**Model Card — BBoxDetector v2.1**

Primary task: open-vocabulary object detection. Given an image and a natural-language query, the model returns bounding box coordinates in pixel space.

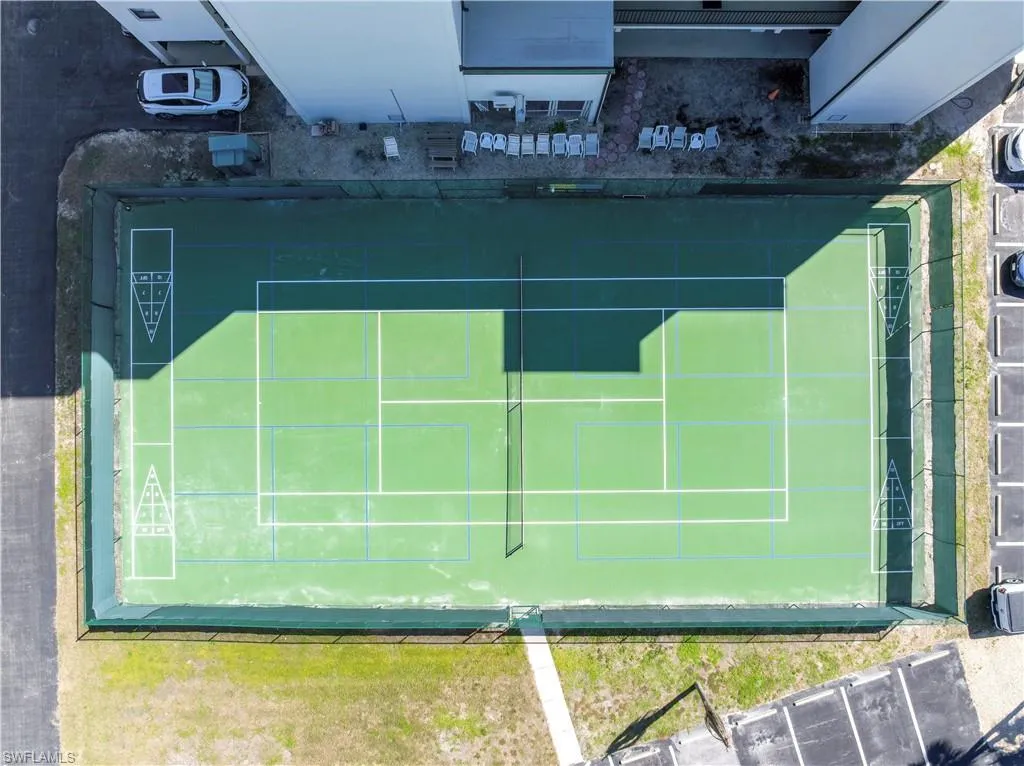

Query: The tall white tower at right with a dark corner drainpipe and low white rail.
[810,0,1024,123]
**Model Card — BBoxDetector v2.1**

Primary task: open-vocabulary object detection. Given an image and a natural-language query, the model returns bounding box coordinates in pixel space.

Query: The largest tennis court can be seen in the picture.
[119,197,925,607]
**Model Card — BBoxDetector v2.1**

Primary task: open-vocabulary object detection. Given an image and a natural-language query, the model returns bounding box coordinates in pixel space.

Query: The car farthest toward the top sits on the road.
[136,64,252,119]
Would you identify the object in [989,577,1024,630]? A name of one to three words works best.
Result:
truck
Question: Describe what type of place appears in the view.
sports ground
